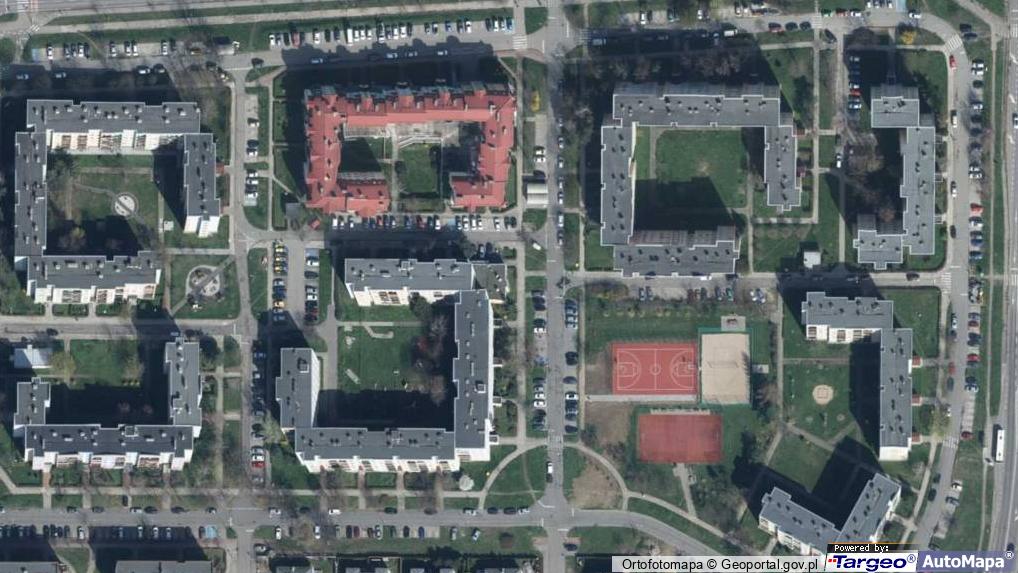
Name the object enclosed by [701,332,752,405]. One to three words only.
sports court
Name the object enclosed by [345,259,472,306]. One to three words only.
building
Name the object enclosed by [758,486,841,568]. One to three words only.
building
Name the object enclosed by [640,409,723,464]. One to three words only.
sports court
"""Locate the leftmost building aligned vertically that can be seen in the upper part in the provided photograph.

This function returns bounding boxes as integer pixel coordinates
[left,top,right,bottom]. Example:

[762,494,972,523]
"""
[15,132,54,268]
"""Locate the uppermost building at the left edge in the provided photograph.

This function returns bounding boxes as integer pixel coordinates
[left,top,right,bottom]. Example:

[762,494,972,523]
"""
[27,98,206,151]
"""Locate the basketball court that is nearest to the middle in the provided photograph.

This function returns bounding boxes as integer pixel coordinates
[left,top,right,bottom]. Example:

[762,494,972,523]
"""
[612,343,697,395]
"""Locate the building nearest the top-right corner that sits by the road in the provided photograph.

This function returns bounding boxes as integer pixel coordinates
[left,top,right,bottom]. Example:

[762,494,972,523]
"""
[870,86,933,142]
